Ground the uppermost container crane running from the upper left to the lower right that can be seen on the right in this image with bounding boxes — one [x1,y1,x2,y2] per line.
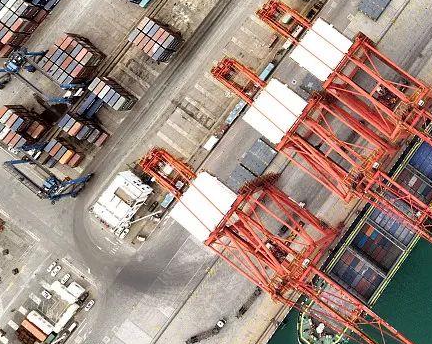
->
[254,0,432,148]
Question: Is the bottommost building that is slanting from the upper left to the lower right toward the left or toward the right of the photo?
left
